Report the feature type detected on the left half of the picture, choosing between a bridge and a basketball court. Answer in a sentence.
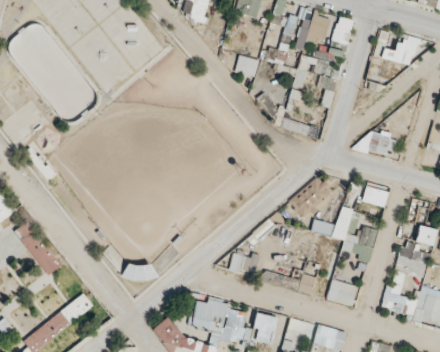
There is a basketball court on the left half of the picture.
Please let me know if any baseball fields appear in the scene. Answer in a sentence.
Yes, I can see a baseball field in this picture.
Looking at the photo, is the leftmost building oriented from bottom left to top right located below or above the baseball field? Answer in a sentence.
Relative to the baseball field, the leftmost building oriented from bottom left to top right lies below it.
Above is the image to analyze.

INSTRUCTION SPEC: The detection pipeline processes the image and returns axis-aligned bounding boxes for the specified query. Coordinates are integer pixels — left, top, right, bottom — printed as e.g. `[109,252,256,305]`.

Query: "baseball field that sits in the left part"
[53,101,244,258]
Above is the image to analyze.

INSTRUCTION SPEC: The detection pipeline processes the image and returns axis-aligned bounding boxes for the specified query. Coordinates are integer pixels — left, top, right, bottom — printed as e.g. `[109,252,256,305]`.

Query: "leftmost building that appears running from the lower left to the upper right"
[24,294,92,352]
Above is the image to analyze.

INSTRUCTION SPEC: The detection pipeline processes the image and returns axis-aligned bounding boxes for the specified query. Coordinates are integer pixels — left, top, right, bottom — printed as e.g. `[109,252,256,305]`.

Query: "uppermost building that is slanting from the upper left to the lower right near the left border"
[16,224,58,274]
